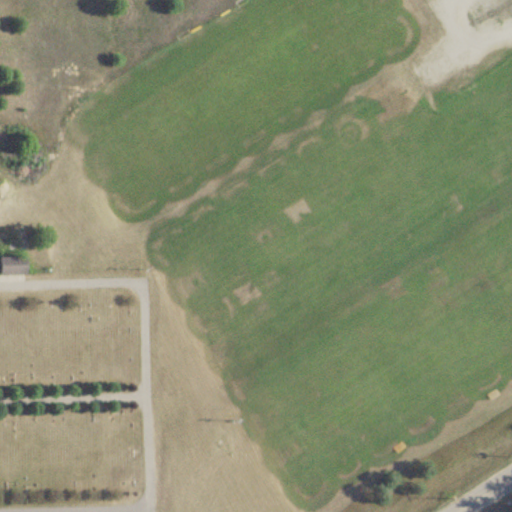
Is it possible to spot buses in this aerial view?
No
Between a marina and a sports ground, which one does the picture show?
sports ground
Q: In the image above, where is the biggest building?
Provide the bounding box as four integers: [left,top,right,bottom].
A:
[2,257,29,274]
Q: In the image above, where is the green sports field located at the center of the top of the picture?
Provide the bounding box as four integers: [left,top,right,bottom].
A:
[76,0,422,226]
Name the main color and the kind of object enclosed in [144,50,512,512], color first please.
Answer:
green sports field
